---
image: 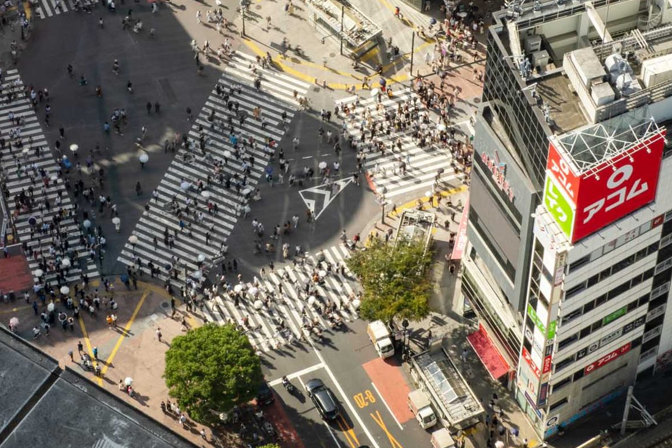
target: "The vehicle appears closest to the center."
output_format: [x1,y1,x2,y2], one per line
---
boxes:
[370,315,397,353]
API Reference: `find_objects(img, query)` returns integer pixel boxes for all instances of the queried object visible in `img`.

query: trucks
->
[370,315,397,353]
[434,423,458,448]
[409,384,441,423]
